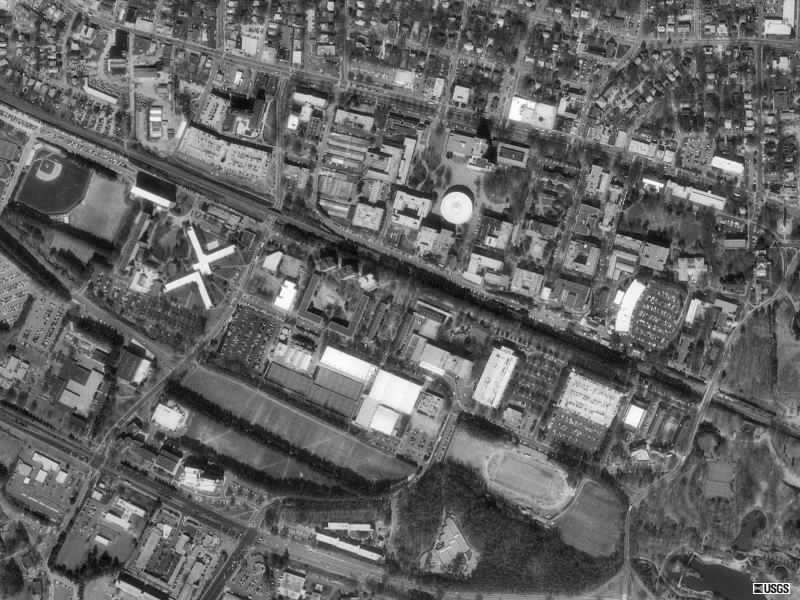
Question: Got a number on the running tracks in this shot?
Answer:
1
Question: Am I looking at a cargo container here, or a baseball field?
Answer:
baseball field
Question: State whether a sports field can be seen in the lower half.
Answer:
Yes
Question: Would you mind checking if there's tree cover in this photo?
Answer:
Yes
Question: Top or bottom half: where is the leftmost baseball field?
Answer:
top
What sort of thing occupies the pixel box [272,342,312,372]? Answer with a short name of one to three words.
greenhouse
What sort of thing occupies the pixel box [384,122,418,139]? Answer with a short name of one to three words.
building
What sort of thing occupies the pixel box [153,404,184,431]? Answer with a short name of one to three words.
building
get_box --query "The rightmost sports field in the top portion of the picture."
[67,172,128,238]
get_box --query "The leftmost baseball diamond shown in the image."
[16,153,93,215]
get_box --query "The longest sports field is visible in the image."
[182,366,415,479]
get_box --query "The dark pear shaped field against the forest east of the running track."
[556,483,621,556]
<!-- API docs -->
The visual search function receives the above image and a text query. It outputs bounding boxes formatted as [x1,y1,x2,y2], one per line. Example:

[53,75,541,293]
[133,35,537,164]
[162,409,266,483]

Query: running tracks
[486,445,573,509]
